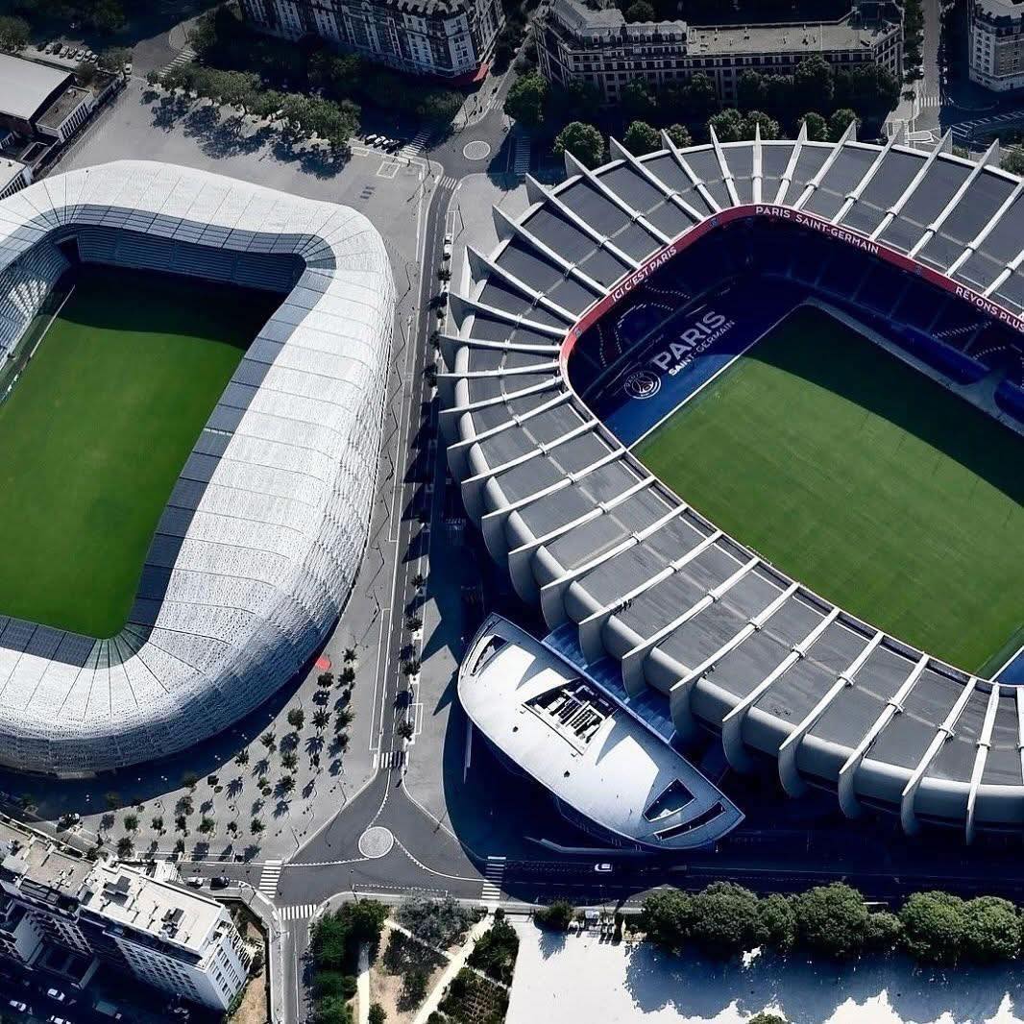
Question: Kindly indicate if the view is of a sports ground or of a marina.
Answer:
sports ground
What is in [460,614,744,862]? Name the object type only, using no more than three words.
building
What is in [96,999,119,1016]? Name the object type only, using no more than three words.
vehicle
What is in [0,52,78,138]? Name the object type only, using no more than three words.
building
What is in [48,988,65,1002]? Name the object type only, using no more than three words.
car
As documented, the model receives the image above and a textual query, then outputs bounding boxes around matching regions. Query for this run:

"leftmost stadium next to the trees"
[0,161,398,774]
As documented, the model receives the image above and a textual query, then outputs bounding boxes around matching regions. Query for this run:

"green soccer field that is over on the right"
[623,300,1024,681]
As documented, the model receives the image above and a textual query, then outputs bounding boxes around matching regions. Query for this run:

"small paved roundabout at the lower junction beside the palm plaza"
[358,826,394,858]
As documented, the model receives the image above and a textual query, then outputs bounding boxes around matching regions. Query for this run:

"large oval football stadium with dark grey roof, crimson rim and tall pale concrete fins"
[436,120,1024,848]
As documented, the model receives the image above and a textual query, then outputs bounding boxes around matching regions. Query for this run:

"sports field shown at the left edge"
[0,278,277,634]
